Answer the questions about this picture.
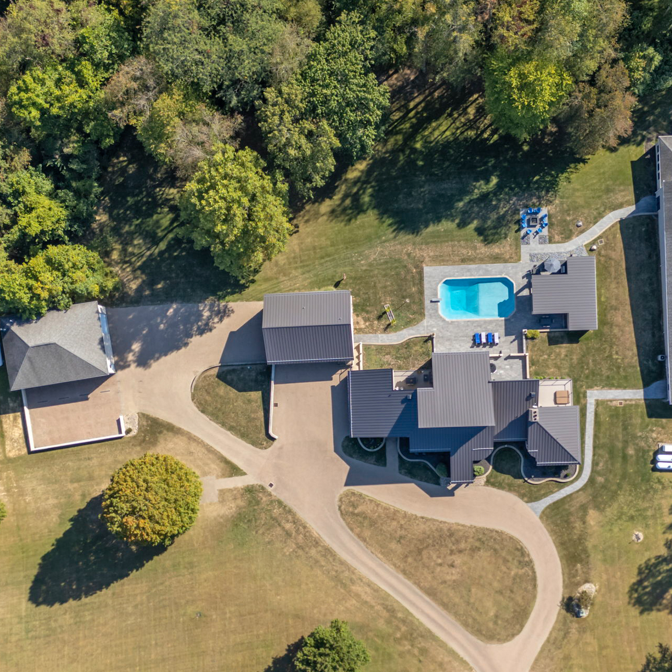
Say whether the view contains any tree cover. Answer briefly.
Yes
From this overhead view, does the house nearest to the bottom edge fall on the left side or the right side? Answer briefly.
right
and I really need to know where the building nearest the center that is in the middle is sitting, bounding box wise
[262,290,355,365]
